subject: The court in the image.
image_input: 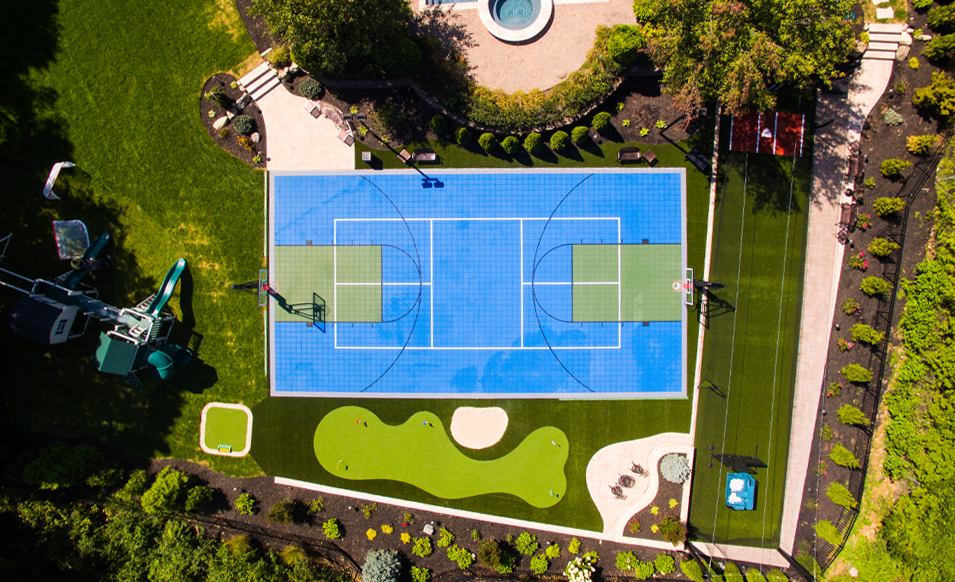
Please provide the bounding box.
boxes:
[270,167,687,398]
